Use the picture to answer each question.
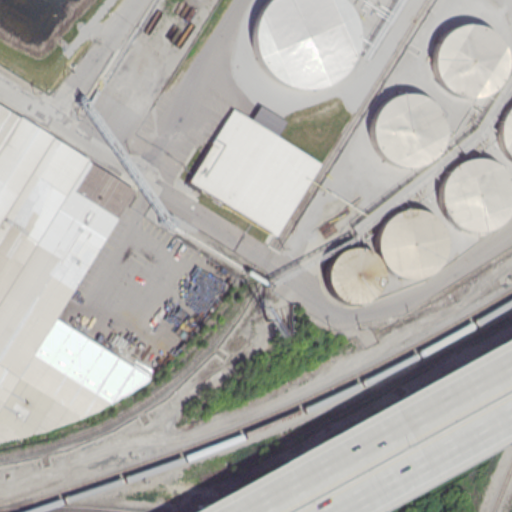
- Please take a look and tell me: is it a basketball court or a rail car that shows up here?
rail car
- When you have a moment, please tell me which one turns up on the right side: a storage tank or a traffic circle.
storage tank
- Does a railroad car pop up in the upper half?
No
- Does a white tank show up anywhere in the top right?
Yes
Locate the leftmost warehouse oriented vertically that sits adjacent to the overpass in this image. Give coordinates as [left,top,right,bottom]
[0,104,154,444]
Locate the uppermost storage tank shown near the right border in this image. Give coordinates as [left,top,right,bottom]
[432,24,512,101]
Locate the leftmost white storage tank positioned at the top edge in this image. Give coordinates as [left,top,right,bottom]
[252,0,364,92]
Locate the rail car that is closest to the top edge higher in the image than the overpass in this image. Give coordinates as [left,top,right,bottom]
[472,298,512,329]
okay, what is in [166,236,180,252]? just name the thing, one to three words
vehicle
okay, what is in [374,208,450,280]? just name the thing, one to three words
storage tank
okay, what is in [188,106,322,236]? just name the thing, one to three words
building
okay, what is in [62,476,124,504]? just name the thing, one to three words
rail car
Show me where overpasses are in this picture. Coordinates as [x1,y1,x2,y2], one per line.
[198,338,512,512]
